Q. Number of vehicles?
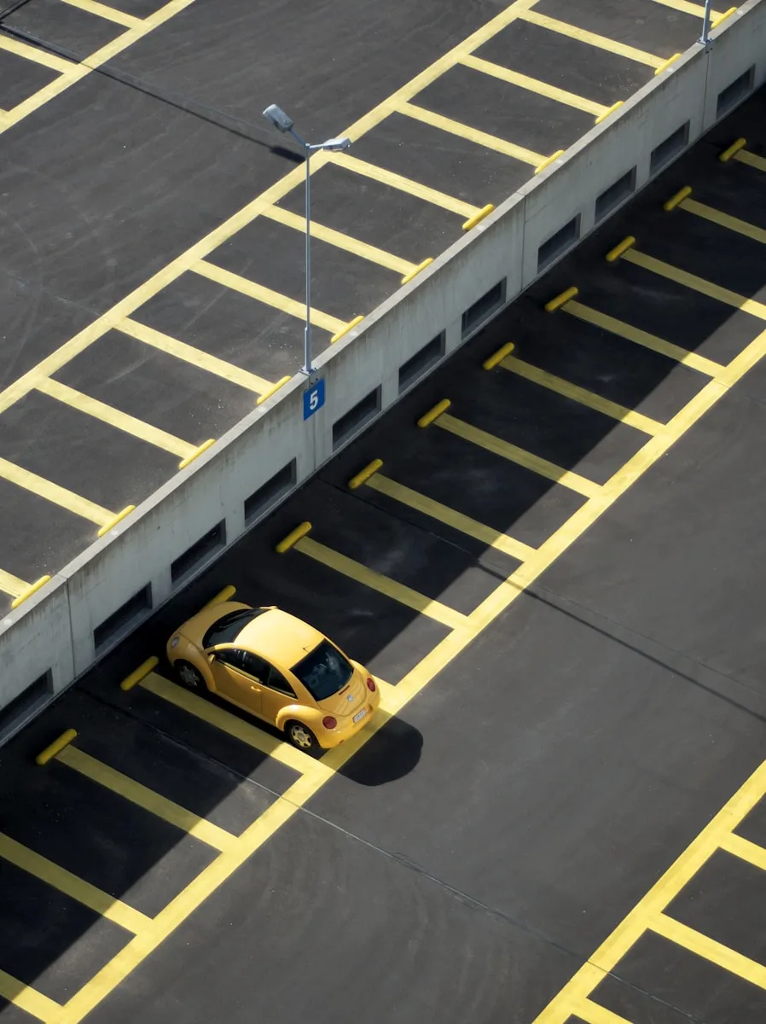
1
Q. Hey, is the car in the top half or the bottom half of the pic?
bottom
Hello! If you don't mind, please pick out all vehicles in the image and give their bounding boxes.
[165,602,381,752]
